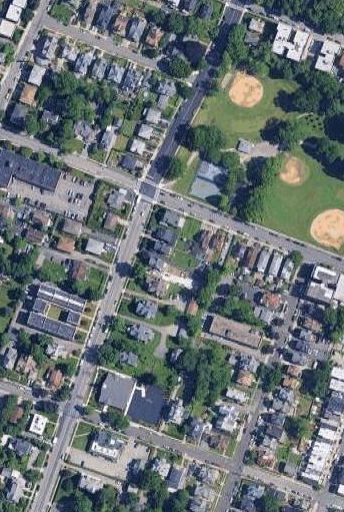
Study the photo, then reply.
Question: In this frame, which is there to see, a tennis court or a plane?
tennis court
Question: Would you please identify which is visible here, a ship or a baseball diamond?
baseball diamond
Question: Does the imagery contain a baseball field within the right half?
Yes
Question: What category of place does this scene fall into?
residential area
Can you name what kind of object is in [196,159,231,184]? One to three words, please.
tennis court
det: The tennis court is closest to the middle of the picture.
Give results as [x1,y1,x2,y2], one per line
[189,175,224,201]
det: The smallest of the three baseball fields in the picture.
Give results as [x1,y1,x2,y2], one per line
[273,149,323,190]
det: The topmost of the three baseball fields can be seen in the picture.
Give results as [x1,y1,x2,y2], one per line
[208,65,293,150]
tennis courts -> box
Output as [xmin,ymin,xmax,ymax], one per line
[189,175,224,201]
[196,159,231,184]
